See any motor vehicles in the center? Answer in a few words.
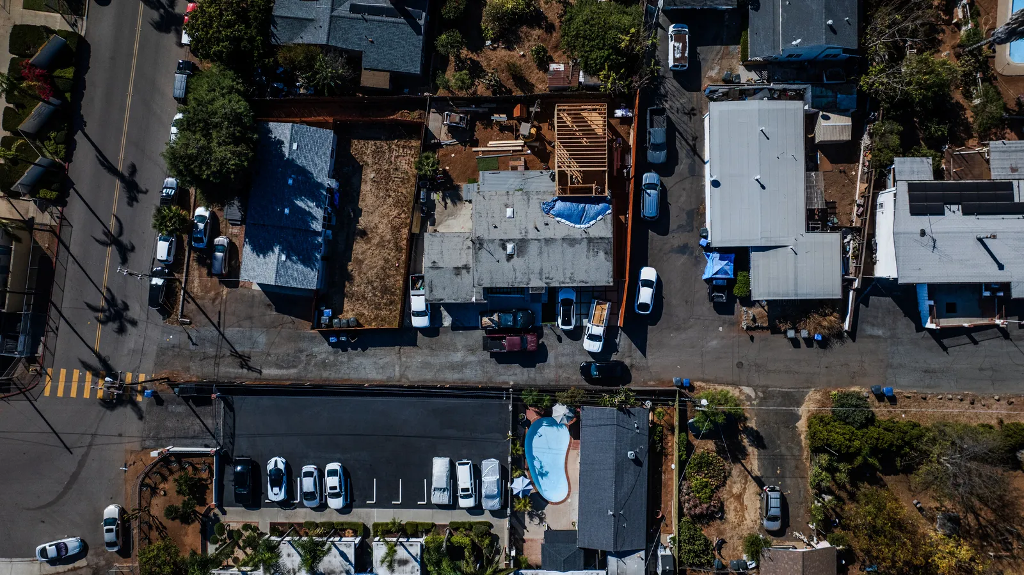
Yes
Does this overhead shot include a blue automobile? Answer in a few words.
Yes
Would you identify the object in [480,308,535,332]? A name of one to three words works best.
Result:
truck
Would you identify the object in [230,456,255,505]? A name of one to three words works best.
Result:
car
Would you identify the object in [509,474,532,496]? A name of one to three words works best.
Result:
umbrella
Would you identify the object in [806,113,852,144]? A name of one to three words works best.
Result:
shed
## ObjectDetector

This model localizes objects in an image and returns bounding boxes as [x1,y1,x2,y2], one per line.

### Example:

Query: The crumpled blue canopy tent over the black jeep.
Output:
[700,252,735,279]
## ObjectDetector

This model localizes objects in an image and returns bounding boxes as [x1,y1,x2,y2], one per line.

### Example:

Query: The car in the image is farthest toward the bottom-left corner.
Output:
[34,534,88,562]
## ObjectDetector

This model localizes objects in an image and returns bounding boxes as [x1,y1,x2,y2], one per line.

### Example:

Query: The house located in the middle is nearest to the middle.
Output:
[424,170,613,303]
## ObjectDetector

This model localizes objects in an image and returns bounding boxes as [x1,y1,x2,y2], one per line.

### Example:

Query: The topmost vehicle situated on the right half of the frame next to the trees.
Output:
[667,23,692,71]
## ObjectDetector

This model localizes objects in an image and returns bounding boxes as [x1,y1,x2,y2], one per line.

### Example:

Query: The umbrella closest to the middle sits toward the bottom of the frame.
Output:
[551,401,574,424]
